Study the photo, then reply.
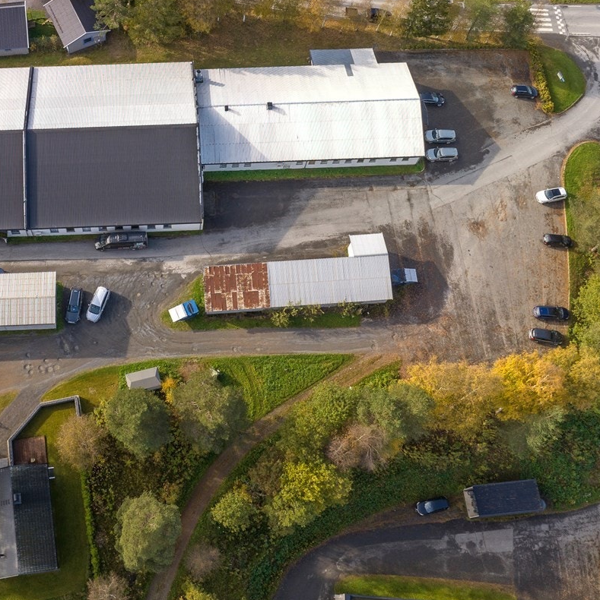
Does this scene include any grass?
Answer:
Yes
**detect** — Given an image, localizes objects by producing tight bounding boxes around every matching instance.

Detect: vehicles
[424,147,459,164]
[411,494,454,517]
[390,269,421,288]
[531,305,569,322]
[532,187,569,206]
[87,286,109,323]
[423,130,457,145]
[365,7,394,24]
[509,86,538,100]
[64,288,82,323]
[539,233,573,251]
[526,328,564,347]
[168,301,200,323]
[95,230,146,253]
[419,93,448,109]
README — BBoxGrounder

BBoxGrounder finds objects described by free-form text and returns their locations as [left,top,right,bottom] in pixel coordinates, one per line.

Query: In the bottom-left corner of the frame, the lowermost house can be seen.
[0,465,58,580]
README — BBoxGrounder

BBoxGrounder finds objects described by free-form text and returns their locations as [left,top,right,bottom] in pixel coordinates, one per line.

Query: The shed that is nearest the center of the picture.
[203,232,393,316]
